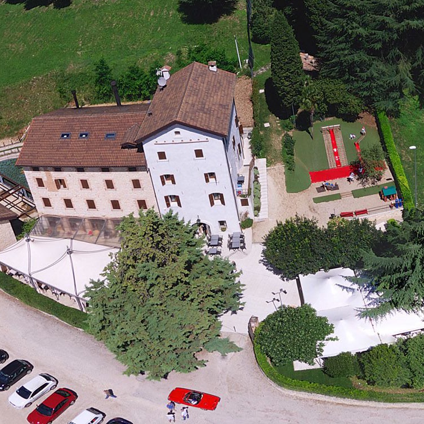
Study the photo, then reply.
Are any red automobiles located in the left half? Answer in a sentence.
Yes, the scene does show a red automobile in the left half.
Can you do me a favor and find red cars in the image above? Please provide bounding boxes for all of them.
[25,389,81,424]
[170,387,223,417]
